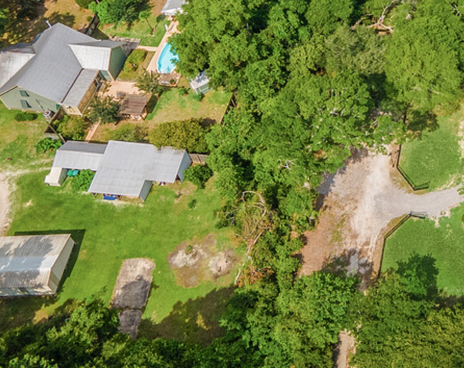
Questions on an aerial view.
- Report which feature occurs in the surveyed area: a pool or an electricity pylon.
pool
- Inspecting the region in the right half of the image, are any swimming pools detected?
No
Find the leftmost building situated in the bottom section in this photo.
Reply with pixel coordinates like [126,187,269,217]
[0,234,76,298]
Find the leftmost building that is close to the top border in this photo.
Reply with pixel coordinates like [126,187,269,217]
[0,18,129,116]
